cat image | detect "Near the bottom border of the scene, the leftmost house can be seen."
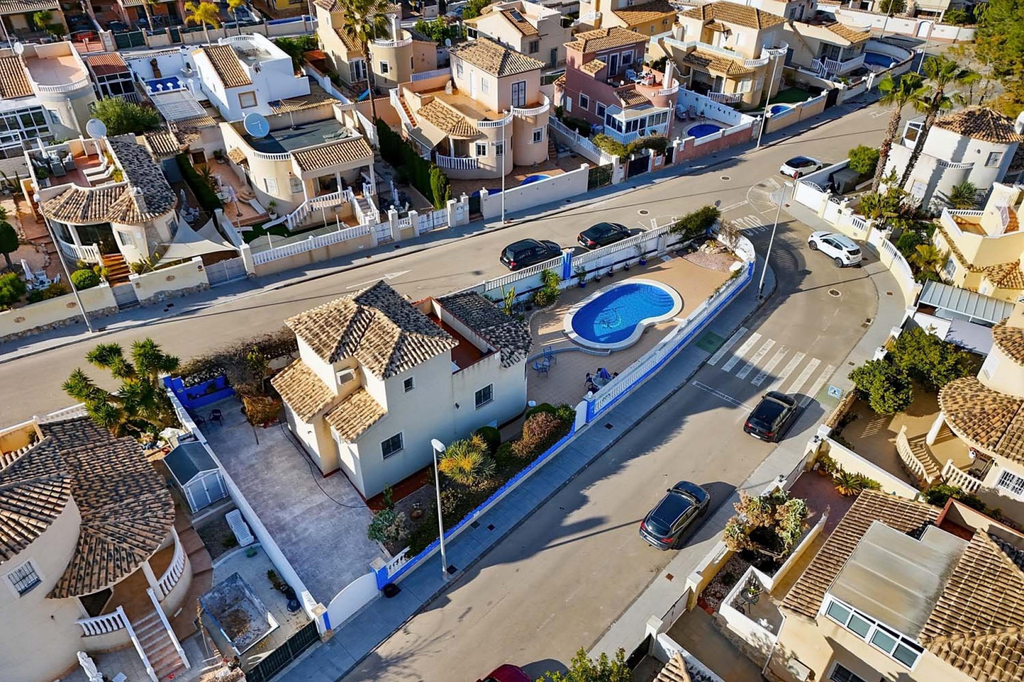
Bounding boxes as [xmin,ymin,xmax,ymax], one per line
[0,417,193,682]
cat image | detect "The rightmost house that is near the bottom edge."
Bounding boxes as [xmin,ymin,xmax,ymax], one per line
[766,489,1024,682]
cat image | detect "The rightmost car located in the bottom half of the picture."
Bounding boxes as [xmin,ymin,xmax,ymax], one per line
[742,388,802,447]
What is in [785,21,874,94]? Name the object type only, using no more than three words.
house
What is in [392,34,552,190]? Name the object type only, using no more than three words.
house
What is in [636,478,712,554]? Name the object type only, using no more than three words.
car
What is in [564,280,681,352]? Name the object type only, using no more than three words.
swimming pool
